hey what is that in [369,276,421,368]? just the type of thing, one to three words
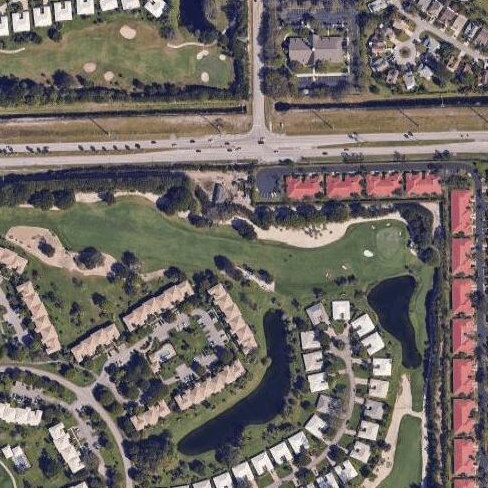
pond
